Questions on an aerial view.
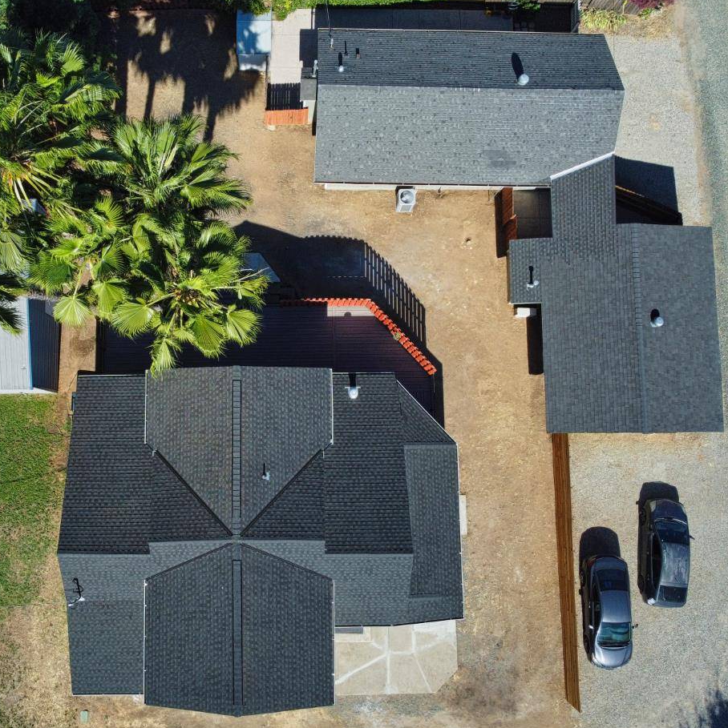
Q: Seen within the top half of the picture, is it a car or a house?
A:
house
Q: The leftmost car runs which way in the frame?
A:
up and down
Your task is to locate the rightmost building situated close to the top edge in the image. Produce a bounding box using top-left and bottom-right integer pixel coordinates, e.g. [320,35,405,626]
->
[296,28,623,194]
